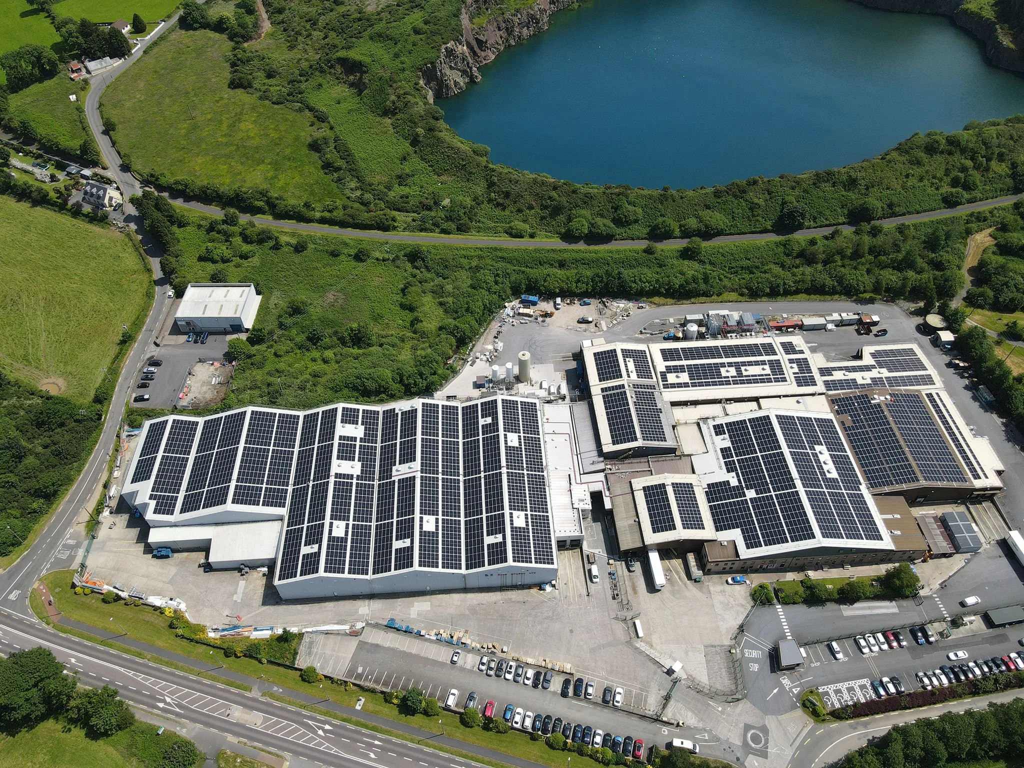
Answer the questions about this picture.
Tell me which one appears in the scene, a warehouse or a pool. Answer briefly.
warehouse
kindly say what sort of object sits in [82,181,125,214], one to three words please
house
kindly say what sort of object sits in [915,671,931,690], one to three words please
car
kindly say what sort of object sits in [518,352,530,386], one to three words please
silo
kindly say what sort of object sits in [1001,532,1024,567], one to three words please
vehicle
